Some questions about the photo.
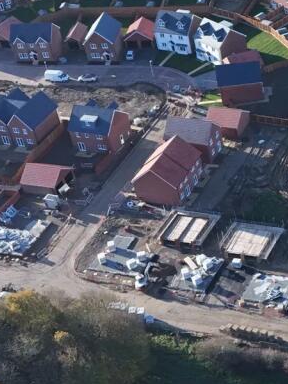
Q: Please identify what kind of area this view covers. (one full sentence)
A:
This looks like a residential area.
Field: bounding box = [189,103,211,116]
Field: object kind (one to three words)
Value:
vehicle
